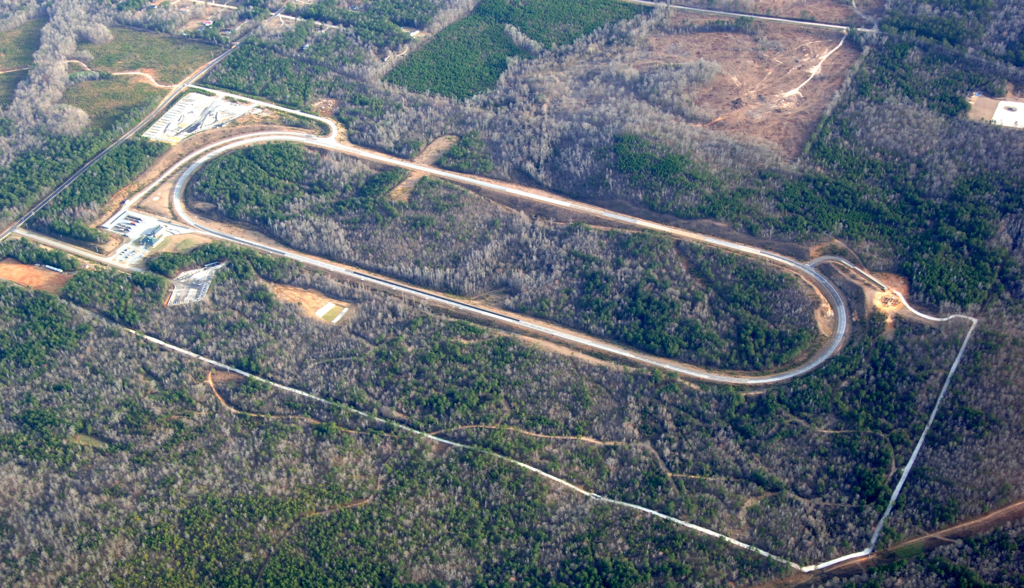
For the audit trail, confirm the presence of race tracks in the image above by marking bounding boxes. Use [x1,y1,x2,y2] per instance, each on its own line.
[171,136,847,384]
